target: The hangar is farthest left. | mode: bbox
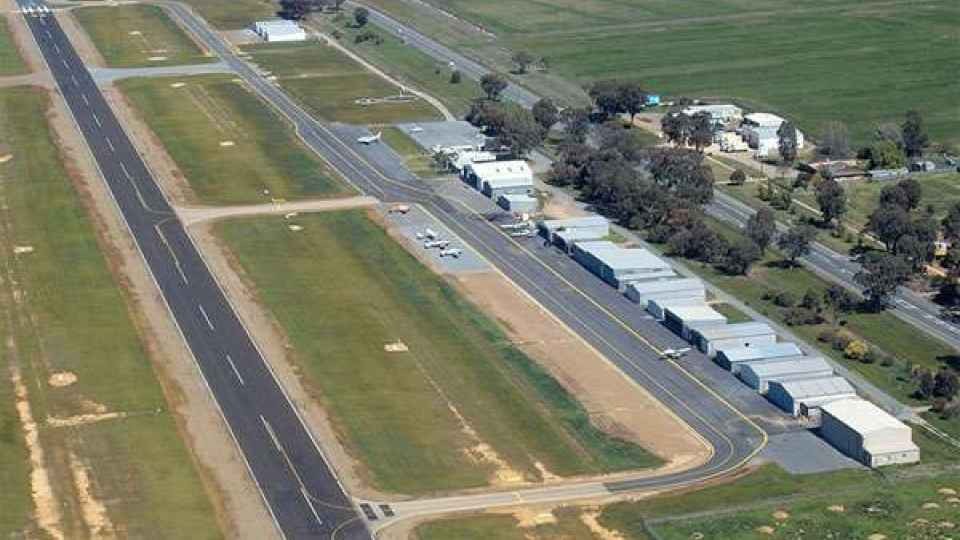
[250,17,310,45]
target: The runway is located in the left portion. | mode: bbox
[8,16,373,540]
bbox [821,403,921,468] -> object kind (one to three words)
hangar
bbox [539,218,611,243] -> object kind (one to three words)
hangar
